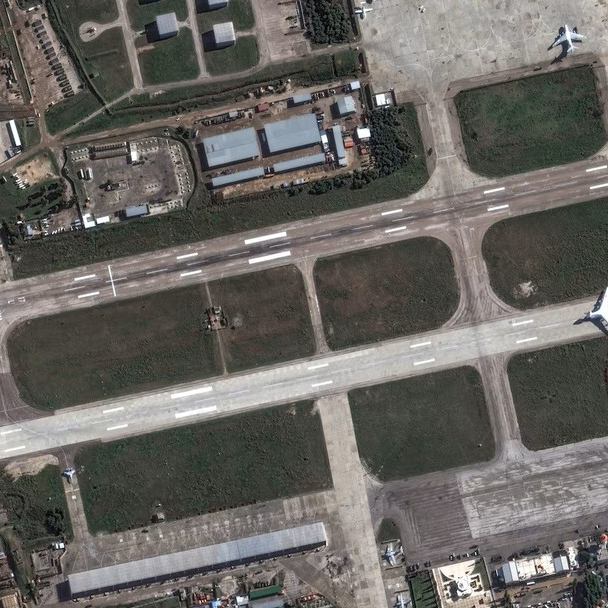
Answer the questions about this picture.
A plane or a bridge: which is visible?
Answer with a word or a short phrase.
plane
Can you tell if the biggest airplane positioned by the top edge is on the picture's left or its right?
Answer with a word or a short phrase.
right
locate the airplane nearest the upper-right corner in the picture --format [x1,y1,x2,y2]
[554,25,588,55]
